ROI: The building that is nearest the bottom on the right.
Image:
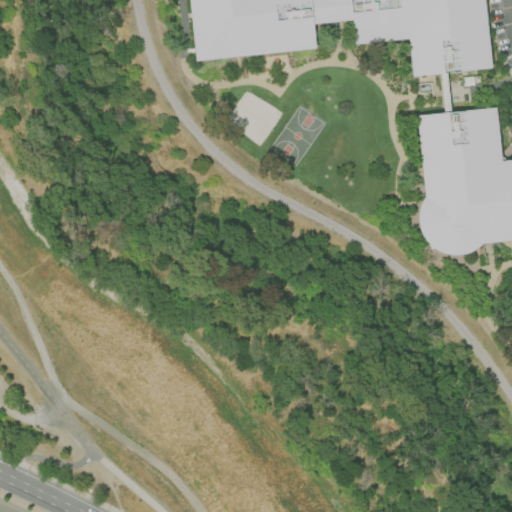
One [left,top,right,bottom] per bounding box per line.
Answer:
[420,108,512,256]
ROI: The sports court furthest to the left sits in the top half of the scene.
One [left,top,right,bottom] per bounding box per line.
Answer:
[226,92,282,146]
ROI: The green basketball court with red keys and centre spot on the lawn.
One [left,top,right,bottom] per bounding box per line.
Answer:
[272,106,326,164]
